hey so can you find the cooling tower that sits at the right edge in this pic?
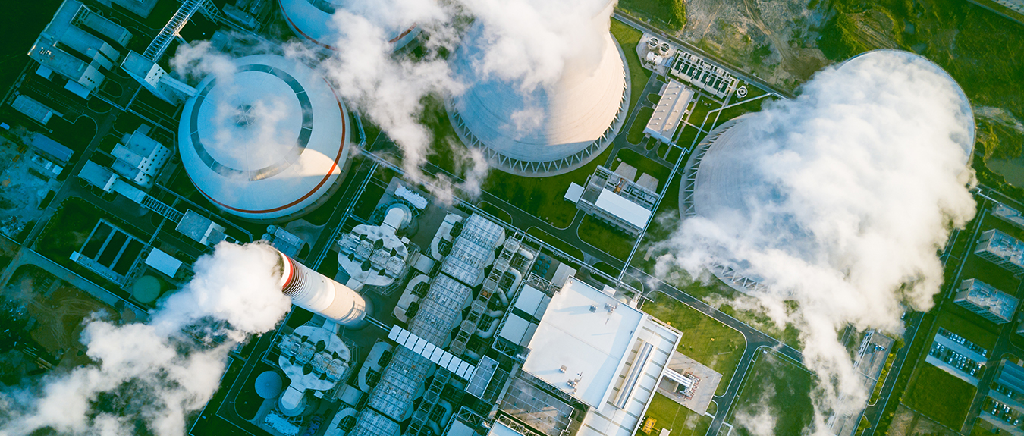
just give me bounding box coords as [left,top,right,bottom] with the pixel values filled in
[674,49,975,304]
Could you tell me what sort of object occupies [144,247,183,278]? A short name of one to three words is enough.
shed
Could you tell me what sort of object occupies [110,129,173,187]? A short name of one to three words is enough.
house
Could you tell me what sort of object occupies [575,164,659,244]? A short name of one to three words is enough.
building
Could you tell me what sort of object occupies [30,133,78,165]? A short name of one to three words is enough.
shed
